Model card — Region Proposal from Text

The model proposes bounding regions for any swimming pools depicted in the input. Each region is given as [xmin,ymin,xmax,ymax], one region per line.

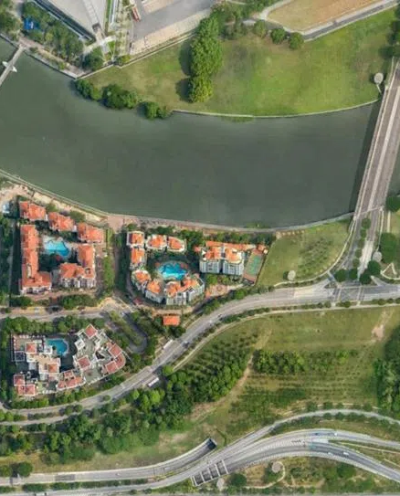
[158,261,189,282]
[46,337,68,356]
[42,237,70,258]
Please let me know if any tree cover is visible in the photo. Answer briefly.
Yes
